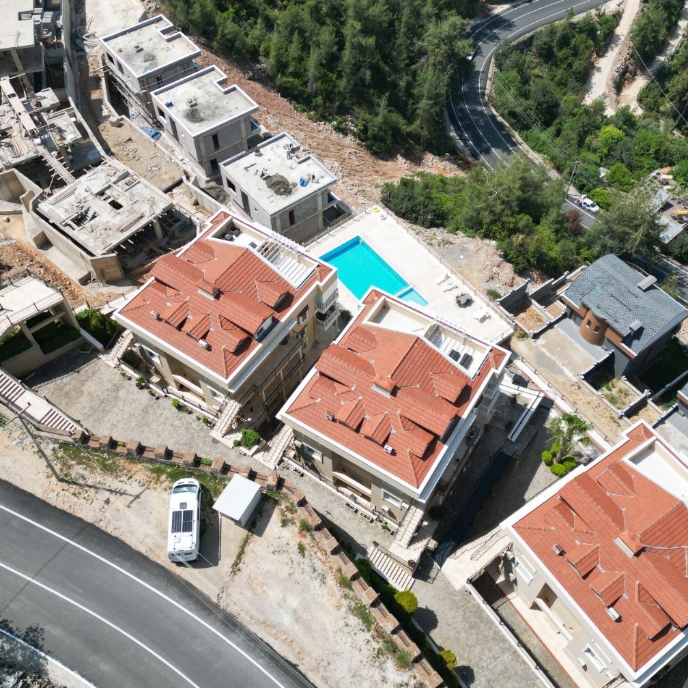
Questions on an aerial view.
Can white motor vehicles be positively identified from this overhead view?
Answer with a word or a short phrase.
Yes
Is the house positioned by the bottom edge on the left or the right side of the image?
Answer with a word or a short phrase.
right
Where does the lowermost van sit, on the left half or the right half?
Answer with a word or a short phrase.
left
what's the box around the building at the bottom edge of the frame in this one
[493,419,688,688]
